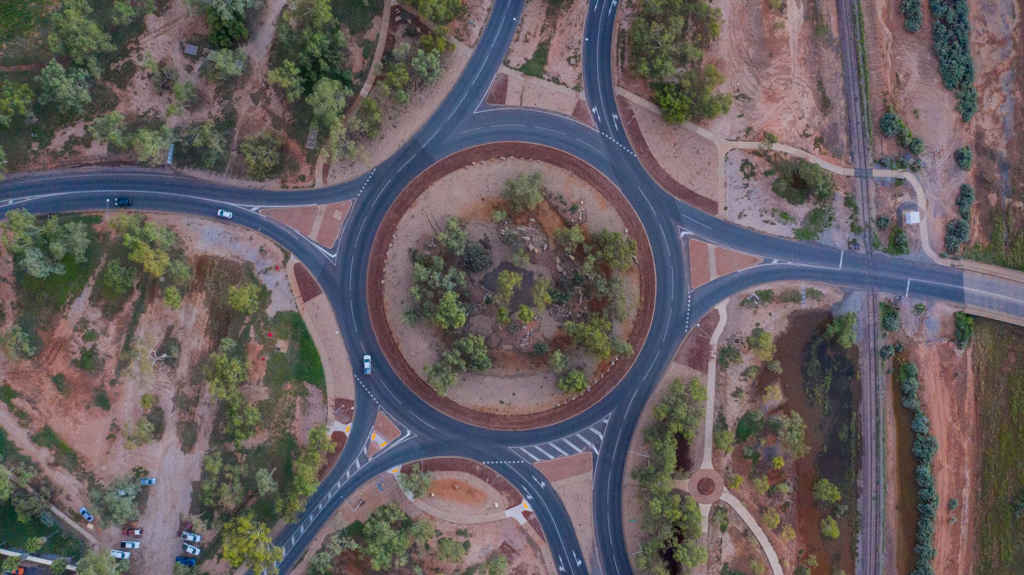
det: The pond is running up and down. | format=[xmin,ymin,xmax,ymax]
[755,306,857,575]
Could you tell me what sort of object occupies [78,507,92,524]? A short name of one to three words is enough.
car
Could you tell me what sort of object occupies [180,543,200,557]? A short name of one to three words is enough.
vehicle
